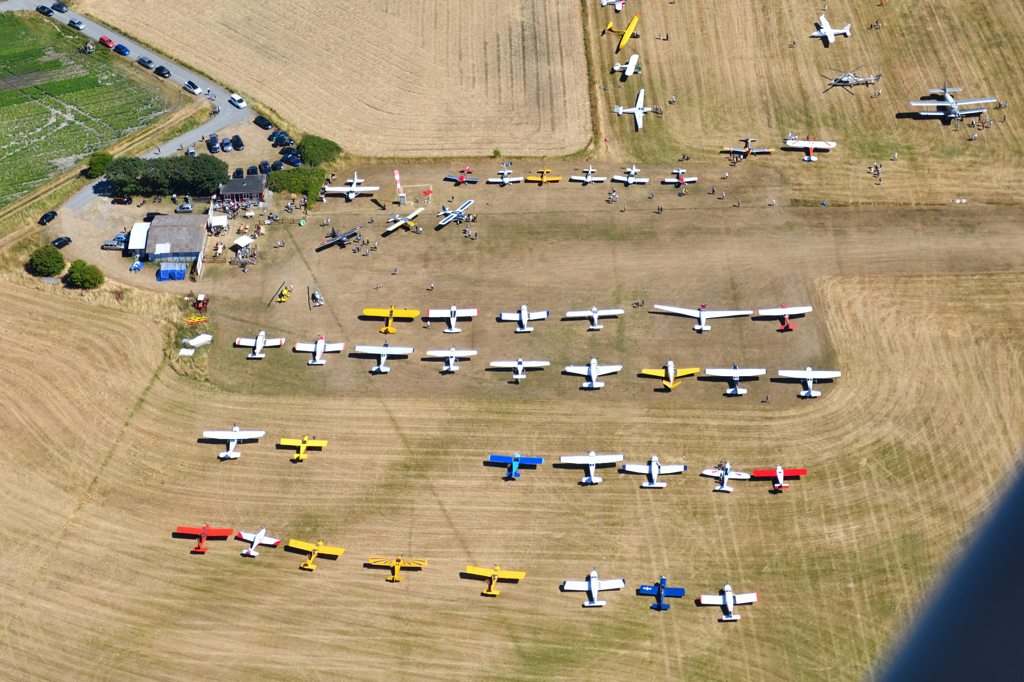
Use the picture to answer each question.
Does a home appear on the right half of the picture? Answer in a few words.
No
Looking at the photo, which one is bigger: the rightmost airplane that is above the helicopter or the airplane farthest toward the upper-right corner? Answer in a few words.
the airplane farthest toward the upper-right corner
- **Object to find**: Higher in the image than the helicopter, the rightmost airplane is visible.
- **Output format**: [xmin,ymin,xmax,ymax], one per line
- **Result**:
[811,15,851,42]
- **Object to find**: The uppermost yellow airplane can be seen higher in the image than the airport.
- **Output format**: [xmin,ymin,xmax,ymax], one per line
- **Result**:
[609,14,640,50]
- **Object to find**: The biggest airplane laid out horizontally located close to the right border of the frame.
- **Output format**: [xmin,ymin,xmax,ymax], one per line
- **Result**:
[910,84,999,123]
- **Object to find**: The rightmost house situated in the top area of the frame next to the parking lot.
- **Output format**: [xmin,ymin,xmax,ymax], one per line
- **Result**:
[219,174,266,203]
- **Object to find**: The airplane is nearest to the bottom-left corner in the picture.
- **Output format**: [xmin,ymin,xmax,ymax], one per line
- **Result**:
[176,525,233,553]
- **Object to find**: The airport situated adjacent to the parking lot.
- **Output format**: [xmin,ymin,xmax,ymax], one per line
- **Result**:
[40,155,1024,404]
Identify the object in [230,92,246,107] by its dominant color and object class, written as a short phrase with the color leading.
white car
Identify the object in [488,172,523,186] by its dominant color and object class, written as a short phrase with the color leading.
white airplane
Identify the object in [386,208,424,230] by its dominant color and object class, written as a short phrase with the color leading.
white airplane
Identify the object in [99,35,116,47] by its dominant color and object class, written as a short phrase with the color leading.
red vehicle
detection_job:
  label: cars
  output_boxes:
[185,81,201,93]
[255,115,272,129]
[282,153,301,166]
[249,164,258,175]
[209,132,220,150]
[155,65,171,77]
[144,211,164,221]
[114,44,130,54]
[138,56,155,68]
[51,2,68,12]
[186,146,197,158]
[230,92,246,107]
[46,237,74,247]
[102,239,127,251]
[235,166,244,178]
[280,146,299,158]
[37,5,53,15]
[112,233,130,244]
[175,203,194,213]
[99,35,116,47]
[112,195,133,205]
[273,159,283,172]
[38,213,59,225]
[274,138,293,148]
[268,131,288,141]
[261,161,271,174]
[222,138,232,151]
[69,17,85,29]
[233,135,244,150]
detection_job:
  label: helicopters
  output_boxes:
[827,66,885,88]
